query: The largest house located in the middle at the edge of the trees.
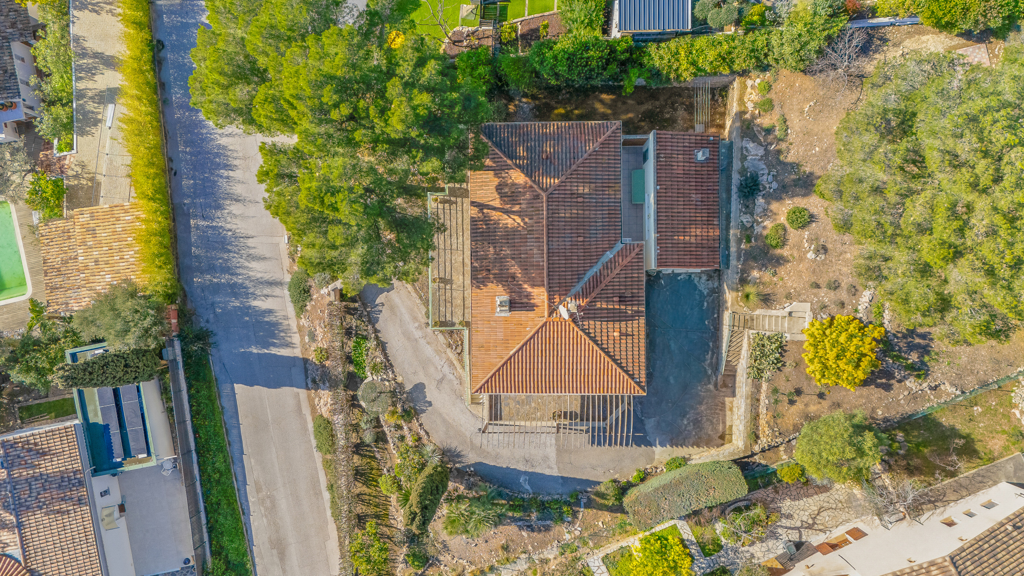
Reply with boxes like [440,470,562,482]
[468,119,648,397]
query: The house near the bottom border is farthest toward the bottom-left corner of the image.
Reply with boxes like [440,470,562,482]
[0,418,141,576]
